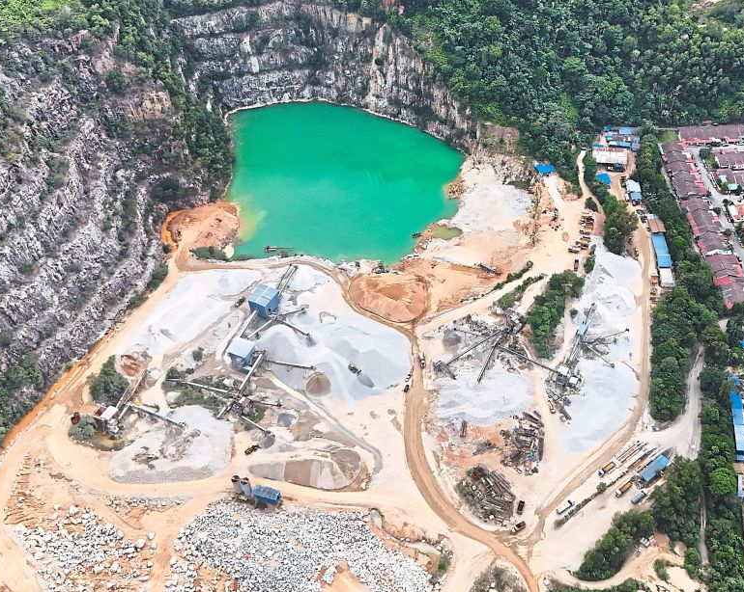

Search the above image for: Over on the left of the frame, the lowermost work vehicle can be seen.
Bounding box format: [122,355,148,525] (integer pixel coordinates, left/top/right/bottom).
[246,441,266,454]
